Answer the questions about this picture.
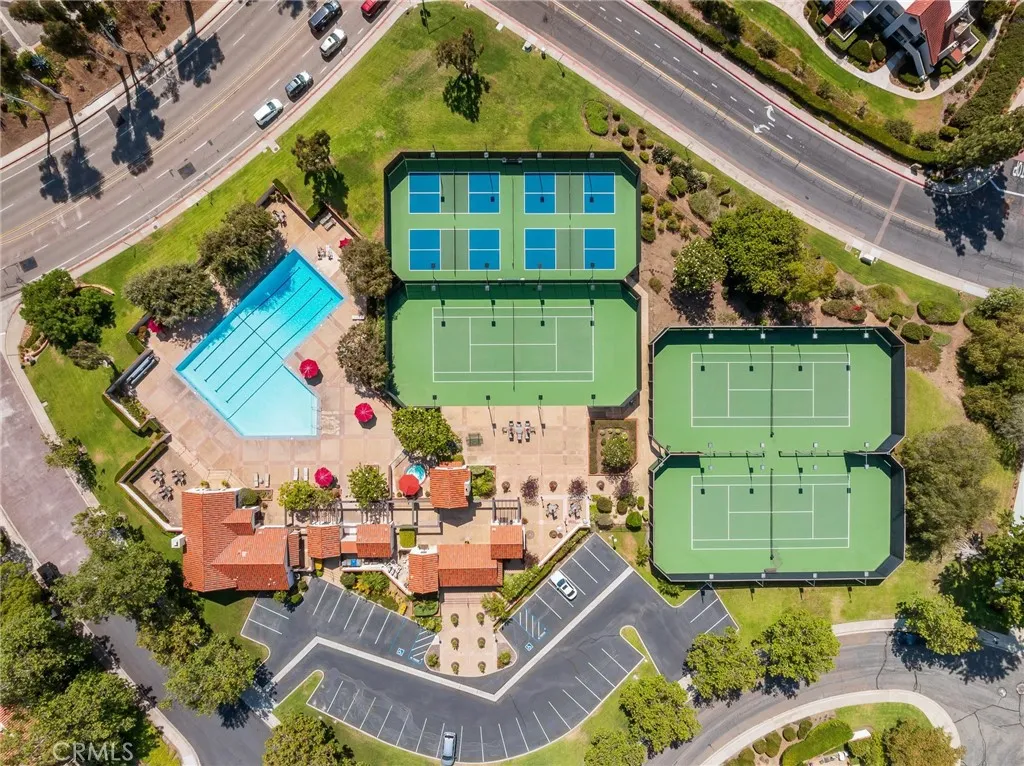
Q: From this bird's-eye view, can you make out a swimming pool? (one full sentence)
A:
Yes, the frame does contain a swimming pool.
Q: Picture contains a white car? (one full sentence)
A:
Yes, this view includes a white car.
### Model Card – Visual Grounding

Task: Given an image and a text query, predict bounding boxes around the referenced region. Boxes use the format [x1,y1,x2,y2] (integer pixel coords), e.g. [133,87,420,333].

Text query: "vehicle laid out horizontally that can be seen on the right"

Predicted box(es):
[892,628,925,644]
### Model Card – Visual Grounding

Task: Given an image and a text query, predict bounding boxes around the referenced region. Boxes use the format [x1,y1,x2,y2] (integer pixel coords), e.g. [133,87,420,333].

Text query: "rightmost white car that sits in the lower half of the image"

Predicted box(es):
[550,569,578,601]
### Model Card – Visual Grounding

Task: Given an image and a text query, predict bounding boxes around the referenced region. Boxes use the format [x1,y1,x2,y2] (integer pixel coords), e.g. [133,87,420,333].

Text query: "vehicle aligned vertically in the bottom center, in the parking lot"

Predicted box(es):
[440,729,456,765]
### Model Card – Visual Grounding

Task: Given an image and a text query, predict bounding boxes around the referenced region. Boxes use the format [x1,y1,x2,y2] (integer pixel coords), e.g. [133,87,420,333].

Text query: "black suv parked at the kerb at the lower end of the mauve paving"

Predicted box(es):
[44,560,72,594]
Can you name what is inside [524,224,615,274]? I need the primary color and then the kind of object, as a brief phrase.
blue sports court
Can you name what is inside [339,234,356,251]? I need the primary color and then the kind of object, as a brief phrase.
red umbrella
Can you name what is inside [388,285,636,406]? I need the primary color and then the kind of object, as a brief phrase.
green tennis court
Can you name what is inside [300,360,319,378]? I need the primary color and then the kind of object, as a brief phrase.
red umbrella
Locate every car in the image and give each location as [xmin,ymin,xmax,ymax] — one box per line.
[318,28,347,58]
[360,0,388,17]
[252,99,283,127]
[283,72,314,101]
[440,729,456,765]
[550,569,578,601]
[892,628,925,644]
[44,560,72,594]
[308,1,341,34]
